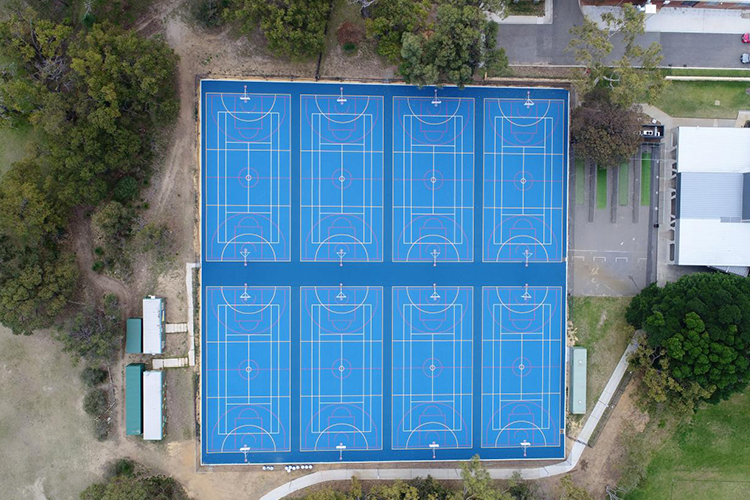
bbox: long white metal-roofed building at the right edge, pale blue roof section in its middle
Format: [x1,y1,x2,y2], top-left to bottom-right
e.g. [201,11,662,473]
[658,127,750,278]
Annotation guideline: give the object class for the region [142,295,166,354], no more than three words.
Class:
shed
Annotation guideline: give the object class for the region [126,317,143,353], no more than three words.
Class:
shed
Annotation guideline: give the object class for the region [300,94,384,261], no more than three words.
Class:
sports court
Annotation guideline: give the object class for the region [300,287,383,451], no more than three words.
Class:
sports court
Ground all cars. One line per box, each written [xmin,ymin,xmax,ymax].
[740,52,750,64]
[740,34,750,45]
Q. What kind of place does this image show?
sports ground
